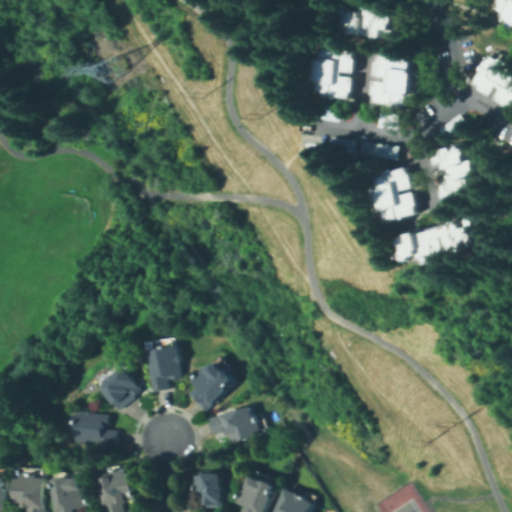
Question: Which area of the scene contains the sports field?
left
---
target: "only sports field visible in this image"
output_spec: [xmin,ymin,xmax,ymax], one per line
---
[0,158,110,362]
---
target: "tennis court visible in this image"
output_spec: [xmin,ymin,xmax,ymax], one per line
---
[378,483,430,512]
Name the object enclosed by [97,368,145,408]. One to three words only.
house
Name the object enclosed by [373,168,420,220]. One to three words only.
building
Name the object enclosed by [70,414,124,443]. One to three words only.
house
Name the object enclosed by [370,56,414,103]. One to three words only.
building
